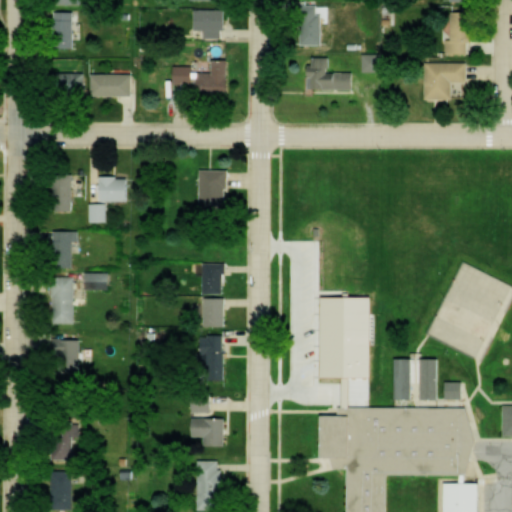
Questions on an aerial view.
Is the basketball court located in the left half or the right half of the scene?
right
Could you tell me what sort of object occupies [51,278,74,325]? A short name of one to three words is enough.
house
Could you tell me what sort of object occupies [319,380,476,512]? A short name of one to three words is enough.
building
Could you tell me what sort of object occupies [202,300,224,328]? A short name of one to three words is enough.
house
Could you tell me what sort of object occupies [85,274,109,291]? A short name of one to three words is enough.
building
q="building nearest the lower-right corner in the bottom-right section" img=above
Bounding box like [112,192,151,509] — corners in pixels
[442,479,484,512]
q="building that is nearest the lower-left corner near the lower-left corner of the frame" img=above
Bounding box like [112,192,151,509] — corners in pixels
[50,470,72,511]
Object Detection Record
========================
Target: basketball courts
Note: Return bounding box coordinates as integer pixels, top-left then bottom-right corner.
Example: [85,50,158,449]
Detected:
[429,262,512,362]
